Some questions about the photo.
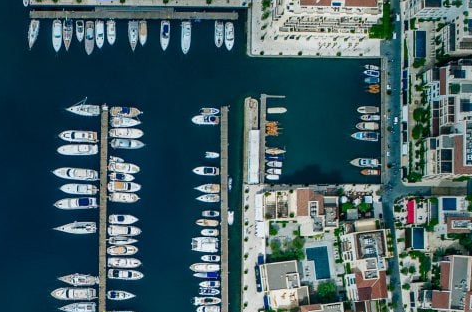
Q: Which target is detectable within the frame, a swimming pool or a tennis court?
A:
swimming pool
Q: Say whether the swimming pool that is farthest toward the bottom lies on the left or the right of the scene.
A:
right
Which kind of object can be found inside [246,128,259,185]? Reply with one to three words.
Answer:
shed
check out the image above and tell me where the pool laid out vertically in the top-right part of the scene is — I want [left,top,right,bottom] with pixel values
[415,30,427,58]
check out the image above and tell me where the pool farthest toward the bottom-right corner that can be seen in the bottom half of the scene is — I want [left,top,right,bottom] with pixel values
[412,227,425,250]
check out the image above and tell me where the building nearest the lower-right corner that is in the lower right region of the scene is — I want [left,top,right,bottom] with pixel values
[418,255,472,312]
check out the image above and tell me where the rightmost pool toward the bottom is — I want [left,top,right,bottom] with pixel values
[441,196,458,212]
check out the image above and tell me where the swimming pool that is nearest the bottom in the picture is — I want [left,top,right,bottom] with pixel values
[304,244,332,282]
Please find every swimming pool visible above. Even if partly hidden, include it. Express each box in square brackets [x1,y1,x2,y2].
[415,30,427,58]
[441,196,458,212]
[412,227,425,250]
[425,0,441,7]
[304,244,332,282]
